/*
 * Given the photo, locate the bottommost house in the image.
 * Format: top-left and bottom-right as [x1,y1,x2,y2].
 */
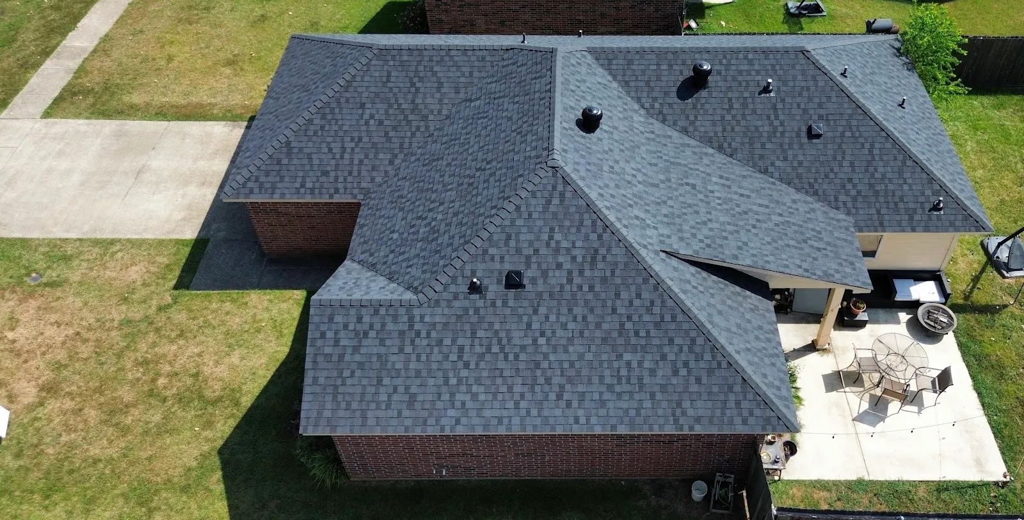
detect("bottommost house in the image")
[220,27,995,485]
